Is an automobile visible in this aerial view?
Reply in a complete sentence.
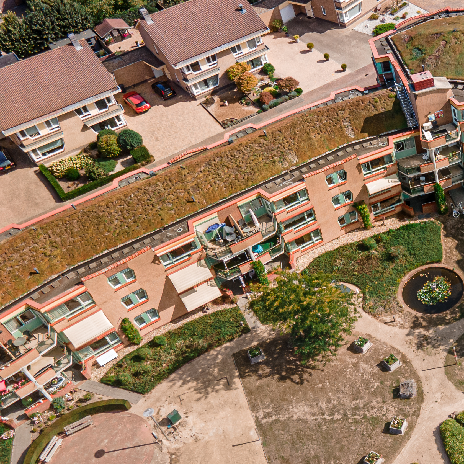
Yes, looking at the shot, I can spot an automobile.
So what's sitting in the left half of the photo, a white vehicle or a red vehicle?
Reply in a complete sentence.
Visible in the left half of the photo is a red vehicle.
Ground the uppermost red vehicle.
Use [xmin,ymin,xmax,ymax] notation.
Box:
[121,90,148,110]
